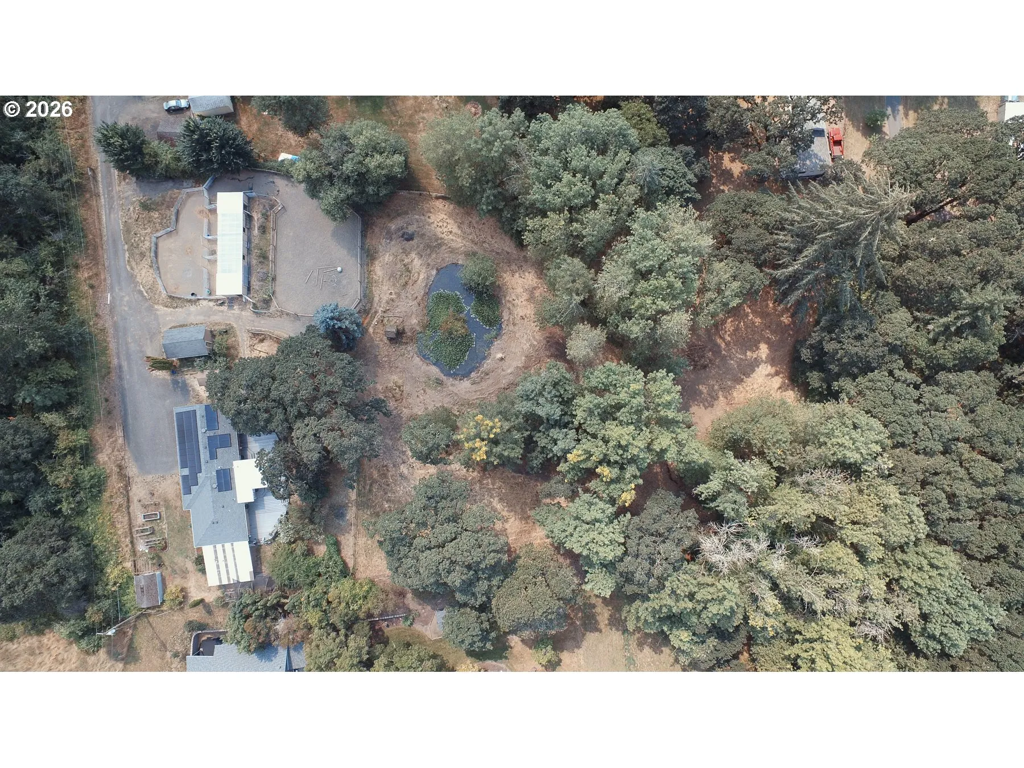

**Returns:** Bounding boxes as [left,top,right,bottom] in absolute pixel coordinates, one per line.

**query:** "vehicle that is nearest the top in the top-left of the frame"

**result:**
[163,98,189,112]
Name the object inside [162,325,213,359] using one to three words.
building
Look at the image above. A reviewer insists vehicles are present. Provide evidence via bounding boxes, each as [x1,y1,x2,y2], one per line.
[828,126,844,158]
[163,98,189,112]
